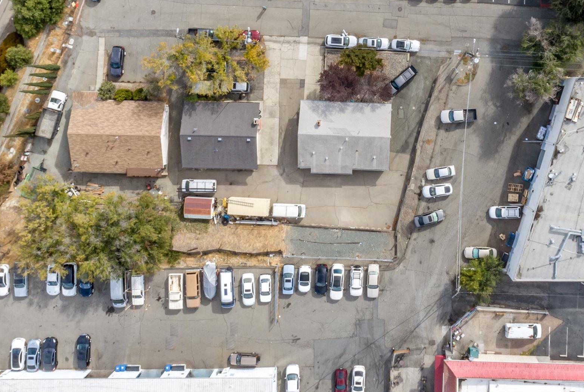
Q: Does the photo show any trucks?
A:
Yes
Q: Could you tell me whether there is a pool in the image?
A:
No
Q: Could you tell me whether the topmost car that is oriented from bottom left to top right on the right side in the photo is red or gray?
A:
gray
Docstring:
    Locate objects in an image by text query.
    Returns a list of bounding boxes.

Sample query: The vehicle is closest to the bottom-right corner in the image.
[504,324,541,339]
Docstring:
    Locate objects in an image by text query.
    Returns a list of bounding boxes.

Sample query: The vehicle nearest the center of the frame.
[272,204,306,220]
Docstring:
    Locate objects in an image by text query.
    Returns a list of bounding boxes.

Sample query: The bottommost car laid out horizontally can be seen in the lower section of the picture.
[229,352,260,367]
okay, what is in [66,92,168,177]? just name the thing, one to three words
house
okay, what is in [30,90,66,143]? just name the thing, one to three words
truck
